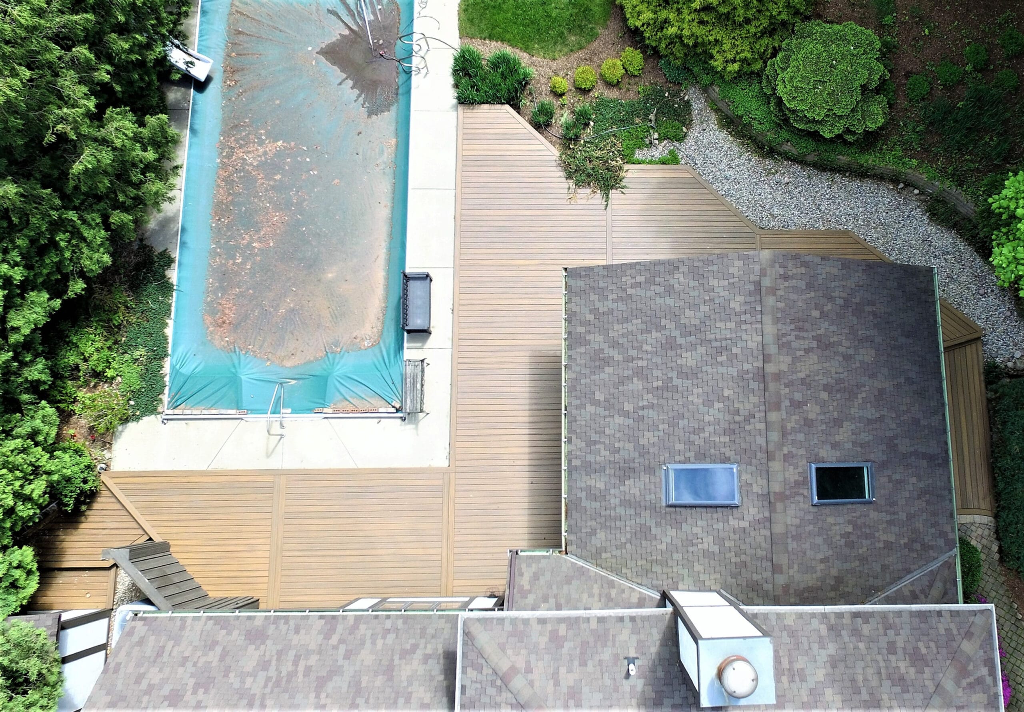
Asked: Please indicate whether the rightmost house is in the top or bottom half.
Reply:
bottom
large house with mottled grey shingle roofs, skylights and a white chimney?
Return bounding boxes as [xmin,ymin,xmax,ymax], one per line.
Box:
[86,249,1007,712]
